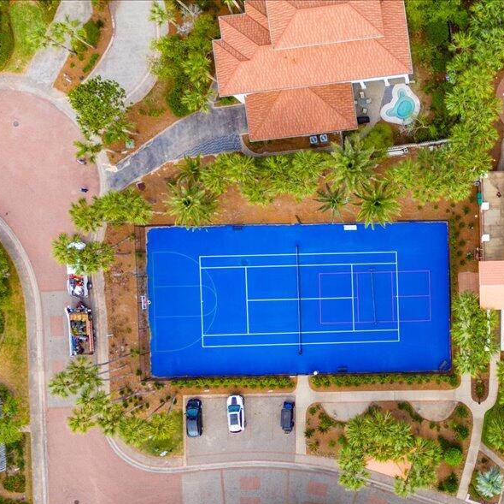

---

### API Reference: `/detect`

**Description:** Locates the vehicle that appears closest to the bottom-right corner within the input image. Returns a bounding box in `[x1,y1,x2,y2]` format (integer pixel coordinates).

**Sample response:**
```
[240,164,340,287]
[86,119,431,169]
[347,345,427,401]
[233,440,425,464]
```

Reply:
[276,401,295,437]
